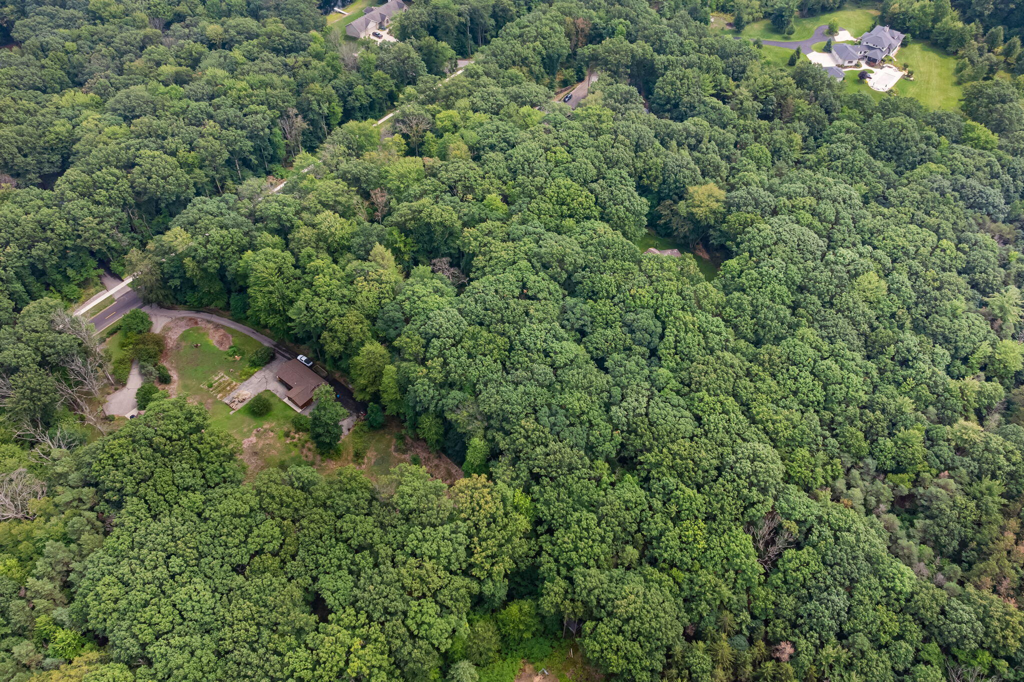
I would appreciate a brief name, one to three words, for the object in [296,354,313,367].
vehicle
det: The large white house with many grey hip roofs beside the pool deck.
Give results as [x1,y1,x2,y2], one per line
[827,18,911,65]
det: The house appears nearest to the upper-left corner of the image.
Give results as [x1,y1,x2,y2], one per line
[345,0,415,41]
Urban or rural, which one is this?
rural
